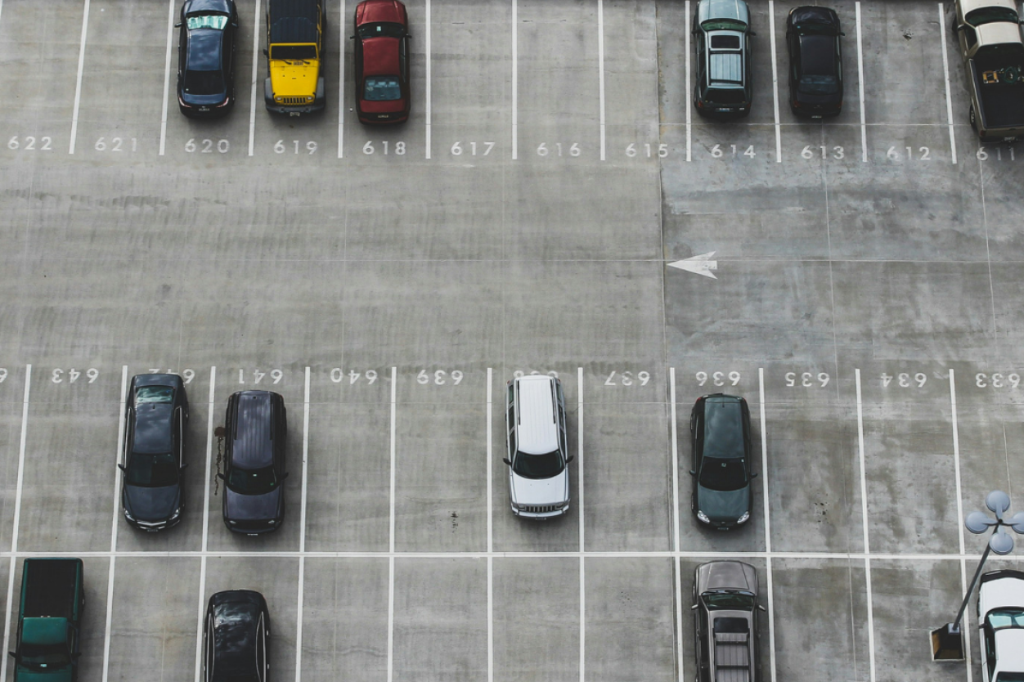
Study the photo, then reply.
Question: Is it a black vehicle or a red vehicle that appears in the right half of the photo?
black vehicle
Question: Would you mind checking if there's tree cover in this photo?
No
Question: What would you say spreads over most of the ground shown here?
paved ground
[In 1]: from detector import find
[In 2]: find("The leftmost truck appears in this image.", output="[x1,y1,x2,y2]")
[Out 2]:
[6,559,86,682]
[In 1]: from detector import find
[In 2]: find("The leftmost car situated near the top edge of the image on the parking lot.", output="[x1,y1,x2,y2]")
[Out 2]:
[171,0,245,119]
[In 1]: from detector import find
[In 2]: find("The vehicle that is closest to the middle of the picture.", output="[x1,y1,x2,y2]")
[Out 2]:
[499,377,578,524]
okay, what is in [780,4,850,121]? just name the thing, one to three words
car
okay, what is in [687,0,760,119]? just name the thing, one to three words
car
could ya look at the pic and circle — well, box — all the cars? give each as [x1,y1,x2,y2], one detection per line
[214,390,293,536]
[688,560,770,682]
[780,4,850,121]
[685,393,762,535]
[499,377,578,524]
[975,568,1024,682]
[201,589,272,682]
[263,0,328,116]
[113,372,193,534]
[348,0,417,123]
[687,0,760,119]
[171,0,245,119]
